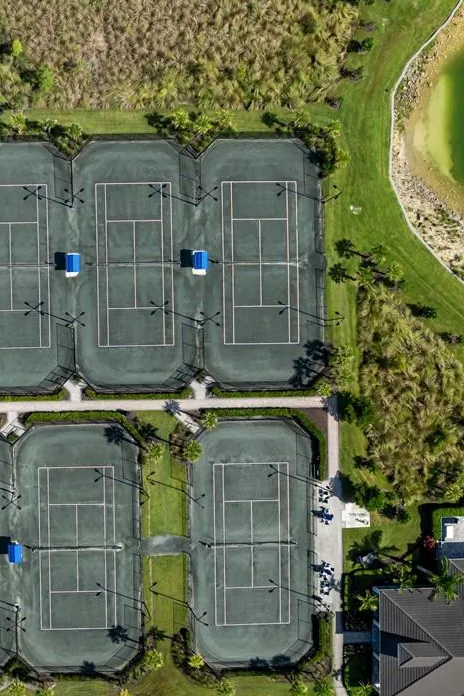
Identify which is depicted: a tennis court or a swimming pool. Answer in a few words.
tennis court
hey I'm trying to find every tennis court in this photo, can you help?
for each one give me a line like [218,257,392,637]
[72,139,199,392]
[13,423,144,675]
[188,418,314,667]
[196,138,327,389]
[0,142,75,393]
